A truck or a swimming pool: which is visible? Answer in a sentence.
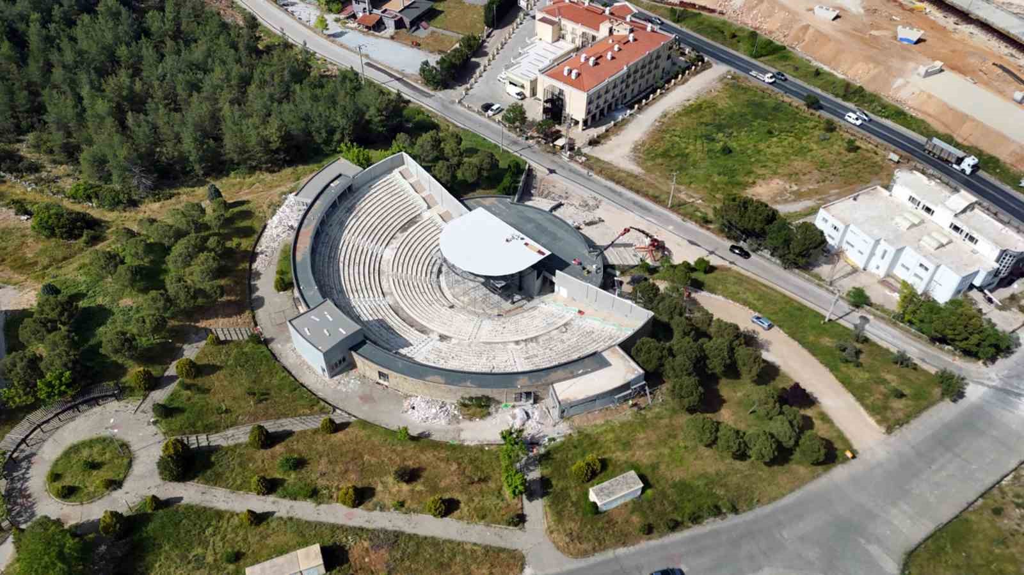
It is a truck that can be seen here.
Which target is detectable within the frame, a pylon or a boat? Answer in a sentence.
Of the two, only a pylon appears.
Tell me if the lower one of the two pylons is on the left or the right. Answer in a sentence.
It is on the right.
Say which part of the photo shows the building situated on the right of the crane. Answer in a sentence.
The building situated on the right of the crane is in the right part of the image.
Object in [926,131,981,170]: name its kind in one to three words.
truck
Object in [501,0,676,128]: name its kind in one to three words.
building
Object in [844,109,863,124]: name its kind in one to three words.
vehicle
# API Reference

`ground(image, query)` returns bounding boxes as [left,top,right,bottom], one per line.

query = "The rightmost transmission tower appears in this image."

[825,246,852,288]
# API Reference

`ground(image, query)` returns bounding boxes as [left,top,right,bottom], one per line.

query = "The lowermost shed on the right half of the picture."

[588,470,644,511]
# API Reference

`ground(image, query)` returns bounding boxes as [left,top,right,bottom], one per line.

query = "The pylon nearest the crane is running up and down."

[562,116,574,156]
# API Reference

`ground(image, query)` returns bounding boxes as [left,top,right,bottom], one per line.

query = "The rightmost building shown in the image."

[814,168,1024,305]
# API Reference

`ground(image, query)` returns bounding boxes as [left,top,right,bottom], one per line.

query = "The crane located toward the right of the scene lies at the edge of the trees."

[595,224,668,264]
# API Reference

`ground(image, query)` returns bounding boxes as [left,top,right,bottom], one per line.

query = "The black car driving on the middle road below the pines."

[729,242,752,258]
